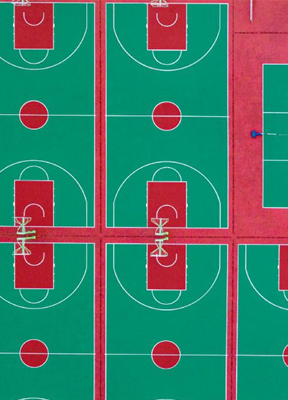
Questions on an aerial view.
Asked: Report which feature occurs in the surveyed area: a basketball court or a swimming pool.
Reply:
basketball court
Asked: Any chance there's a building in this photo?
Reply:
No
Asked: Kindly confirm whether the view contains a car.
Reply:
No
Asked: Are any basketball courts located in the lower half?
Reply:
Yes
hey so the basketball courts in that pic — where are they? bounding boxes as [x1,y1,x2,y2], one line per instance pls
[0,1,95,227]
[235,244,288,400]
[0,242,95,400]
[105,242,228,400]
[105,2,229,229]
